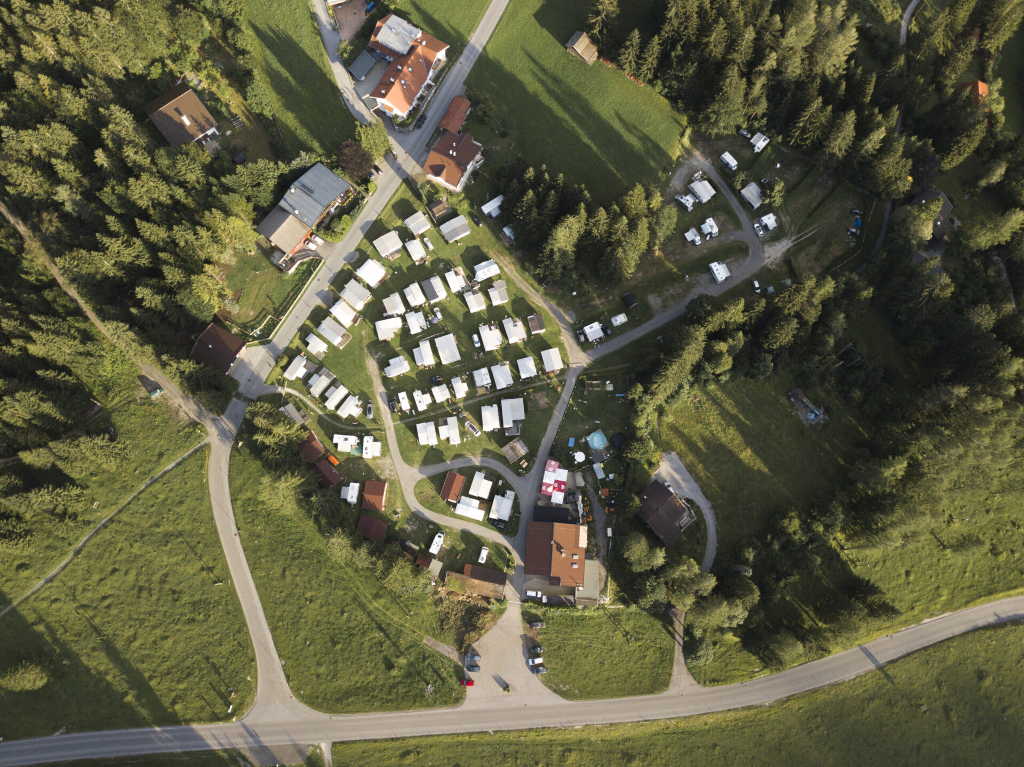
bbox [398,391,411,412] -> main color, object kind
white vehicle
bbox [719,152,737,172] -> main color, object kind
white camper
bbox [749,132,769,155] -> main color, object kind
white camper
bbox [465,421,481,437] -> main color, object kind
white vehicle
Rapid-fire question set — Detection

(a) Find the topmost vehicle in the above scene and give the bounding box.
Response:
[364,1,377,14]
